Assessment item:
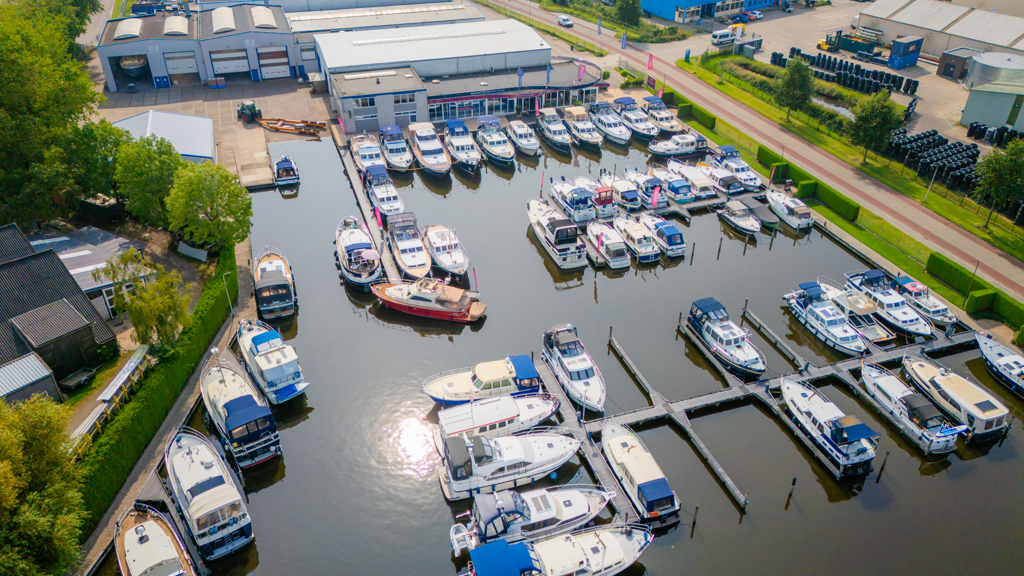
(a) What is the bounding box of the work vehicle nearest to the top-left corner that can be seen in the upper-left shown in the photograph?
[234,100,263,120]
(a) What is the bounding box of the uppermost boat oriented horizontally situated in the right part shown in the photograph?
[647,134,714,158]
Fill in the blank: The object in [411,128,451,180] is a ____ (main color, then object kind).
white boat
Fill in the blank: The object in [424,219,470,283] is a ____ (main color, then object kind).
white boat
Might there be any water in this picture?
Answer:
Yes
